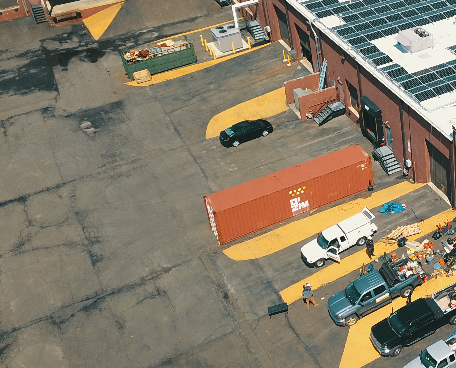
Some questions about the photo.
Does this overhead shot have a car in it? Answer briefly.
Yes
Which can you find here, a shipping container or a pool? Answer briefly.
shipping container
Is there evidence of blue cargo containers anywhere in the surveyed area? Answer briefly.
No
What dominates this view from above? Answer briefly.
paved ground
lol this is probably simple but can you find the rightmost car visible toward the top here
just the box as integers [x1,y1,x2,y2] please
[211,116,277,147]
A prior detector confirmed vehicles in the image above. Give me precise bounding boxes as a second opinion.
[320,256,428,330]
[211,116,277,147]
[294,208,373,269]
[363,282,456,357]
[396,336,456,368]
